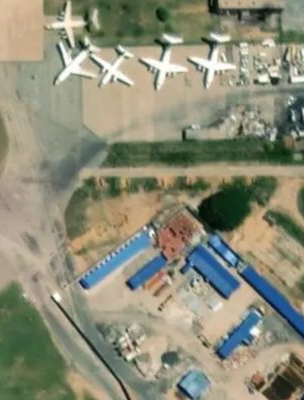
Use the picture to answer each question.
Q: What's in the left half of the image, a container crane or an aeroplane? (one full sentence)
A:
The feature located in the left half of the image is an aeroplane.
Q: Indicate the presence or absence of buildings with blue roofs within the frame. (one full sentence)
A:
Yes, the picture does show a building with a blue roof.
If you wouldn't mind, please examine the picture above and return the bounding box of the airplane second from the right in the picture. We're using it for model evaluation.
[141,28,190,89]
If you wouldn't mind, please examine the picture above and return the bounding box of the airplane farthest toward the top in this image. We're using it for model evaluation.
[45,1,94,48]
